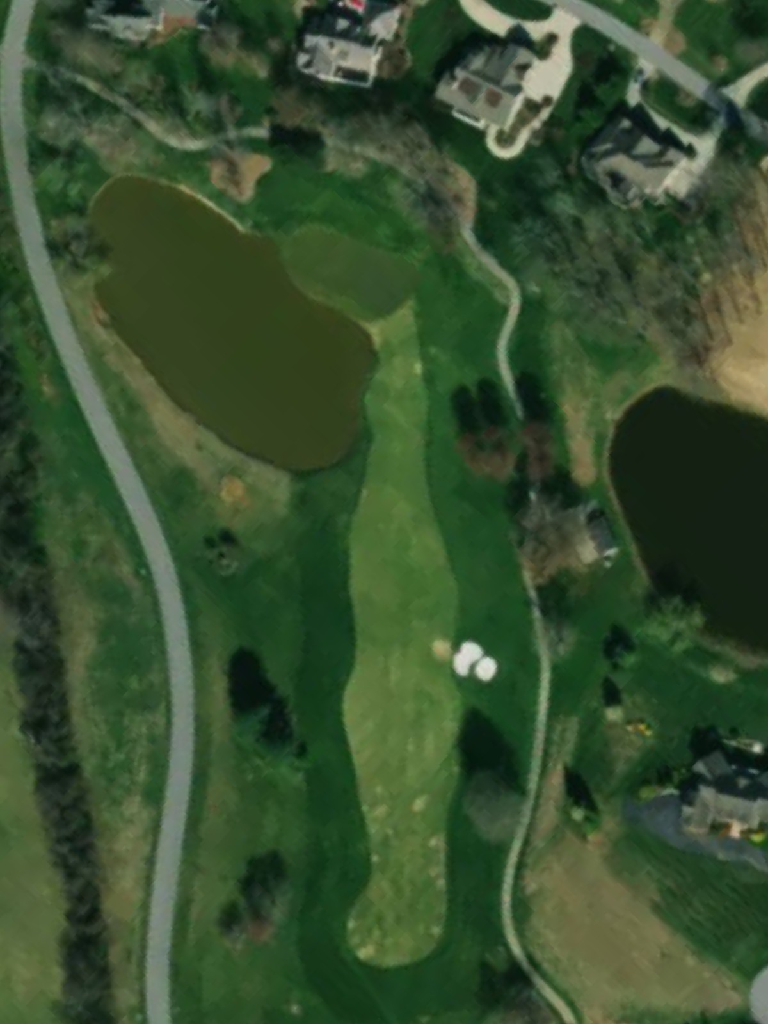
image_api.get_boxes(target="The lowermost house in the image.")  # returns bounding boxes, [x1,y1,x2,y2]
[682,750,768,837]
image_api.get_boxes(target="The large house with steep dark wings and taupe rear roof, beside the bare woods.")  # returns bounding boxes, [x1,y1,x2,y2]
[583,107,693,200]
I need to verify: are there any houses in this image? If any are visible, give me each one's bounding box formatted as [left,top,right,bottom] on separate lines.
[682,750,768,837]
[295,0,410,85]
[431,26,546,129]
[583,107,693,200]
[78,0,214,40]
